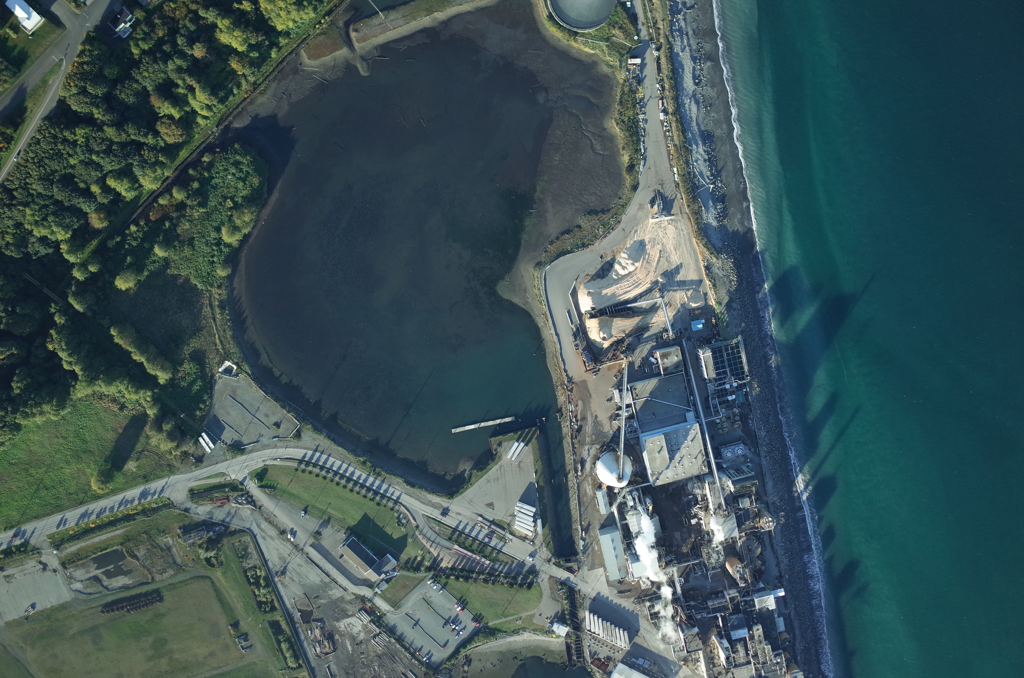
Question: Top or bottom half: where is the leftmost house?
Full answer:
The leftmost house is in the top half of the image.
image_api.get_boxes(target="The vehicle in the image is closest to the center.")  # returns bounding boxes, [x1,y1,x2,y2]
[575,338,594,371]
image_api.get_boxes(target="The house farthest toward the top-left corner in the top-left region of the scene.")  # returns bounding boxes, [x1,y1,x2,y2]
[6,0,48,35]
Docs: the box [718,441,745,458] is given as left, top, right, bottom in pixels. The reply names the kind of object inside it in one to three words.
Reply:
cooling tower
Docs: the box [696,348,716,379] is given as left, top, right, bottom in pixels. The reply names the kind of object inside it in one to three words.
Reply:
house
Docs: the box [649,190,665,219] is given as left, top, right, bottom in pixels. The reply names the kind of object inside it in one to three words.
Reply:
vehicle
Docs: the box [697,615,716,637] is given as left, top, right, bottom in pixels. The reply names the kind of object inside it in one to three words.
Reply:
building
